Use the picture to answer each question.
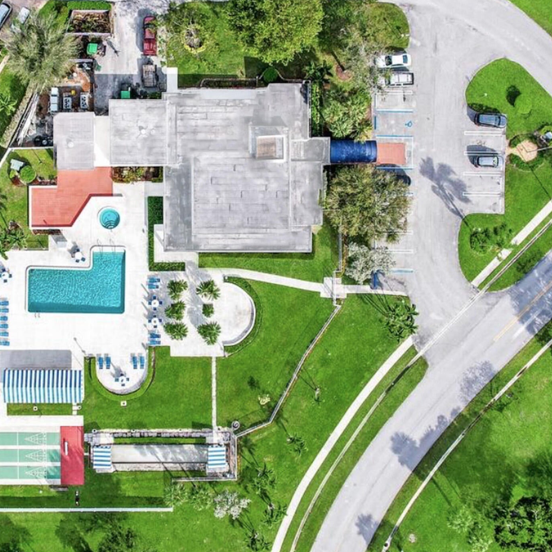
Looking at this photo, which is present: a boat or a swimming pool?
swimming pool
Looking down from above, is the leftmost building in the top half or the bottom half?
bottom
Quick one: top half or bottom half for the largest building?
top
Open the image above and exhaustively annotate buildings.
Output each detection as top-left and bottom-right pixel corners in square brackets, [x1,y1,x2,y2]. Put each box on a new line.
[5,367,86,403]
[54,68,330,253]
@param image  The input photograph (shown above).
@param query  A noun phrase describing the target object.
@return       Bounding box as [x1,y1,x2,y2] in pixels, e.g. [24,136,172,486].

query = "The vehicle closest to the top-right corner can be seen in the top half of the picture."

[472,113,507,129]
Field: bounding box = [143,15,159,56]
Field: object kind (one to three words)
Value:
vehicle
